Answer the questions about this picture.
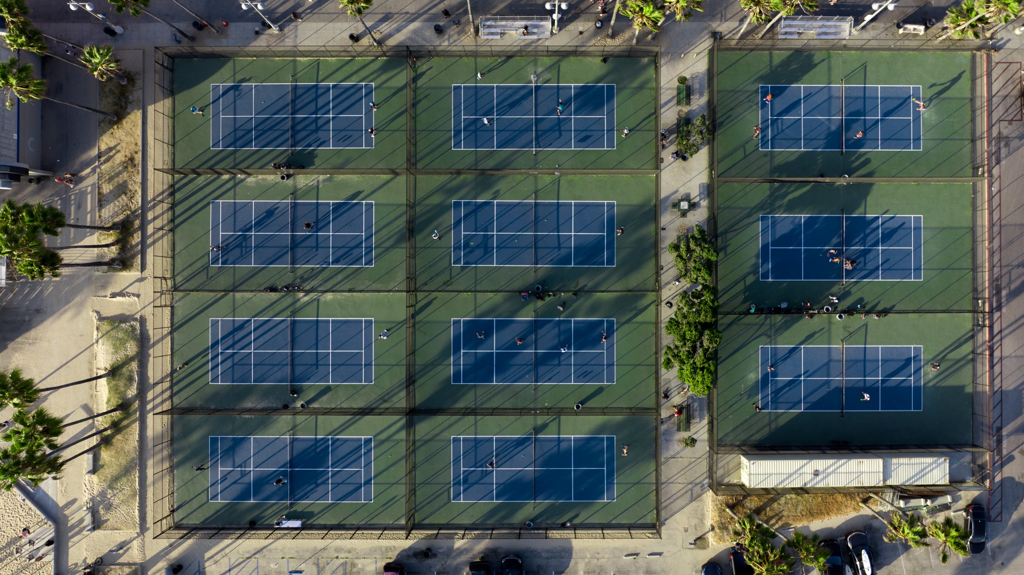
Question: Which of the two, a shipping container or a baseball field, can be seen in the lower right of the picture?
shipping container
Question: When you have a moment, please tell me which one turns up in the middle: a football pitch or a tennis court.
tennis court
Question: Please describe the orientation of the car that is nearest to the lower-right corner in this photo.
vertically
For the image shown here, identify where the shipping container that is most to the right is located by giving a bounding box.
[873,454,953,488]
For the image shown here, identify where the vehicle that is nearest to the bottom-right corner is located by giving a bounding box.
[962,504,988,555]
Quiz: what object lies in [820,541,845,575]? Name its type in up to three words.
car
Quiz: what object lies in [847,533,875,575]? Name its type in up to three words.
car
